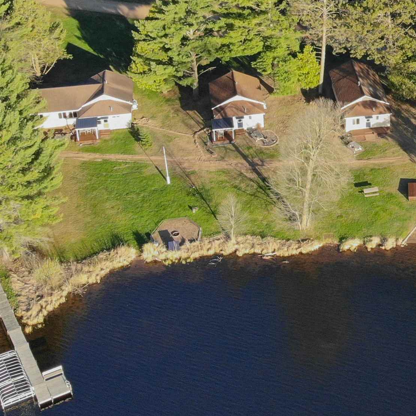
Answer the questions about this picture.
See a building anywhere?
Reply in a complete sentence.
Yes, I can see a building in this picture.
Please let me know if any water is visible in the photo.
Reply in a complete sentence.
Yes, the picture does contain water.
